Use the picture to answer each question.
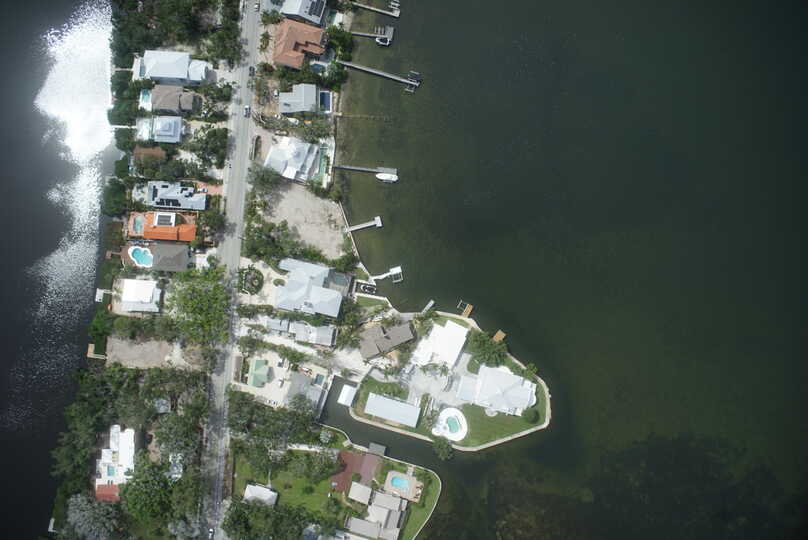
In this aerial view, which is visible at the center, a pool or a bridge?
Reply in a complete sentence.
You can see a pool at the center.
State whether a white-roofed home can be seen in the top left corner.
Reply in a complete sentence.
Yes, a white-roofed home is visible in the top left corner.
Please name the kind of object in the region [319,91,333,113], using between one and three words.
swimming pool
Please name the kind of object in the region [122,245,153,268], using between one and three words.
swimming pool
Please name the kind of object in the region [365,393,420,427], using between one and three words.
building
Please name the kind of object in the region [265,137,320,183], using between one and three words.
house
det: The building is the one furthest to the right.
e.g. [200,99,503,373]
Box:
[473,365,535,417]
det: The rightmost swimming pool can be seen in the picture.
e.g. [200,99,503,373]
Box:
[432,407,466,441]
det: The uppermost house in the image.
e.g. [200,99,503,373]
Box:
[281,0,334,29]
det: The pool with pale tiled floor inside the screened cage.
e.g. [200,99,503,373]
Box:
[323,267,357,298]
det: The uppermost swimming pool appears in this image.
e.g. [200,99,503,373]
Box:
[327,9,343,27]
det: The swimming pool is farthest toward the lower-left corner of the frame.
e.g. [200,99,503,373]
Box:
[96,459,133,484]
